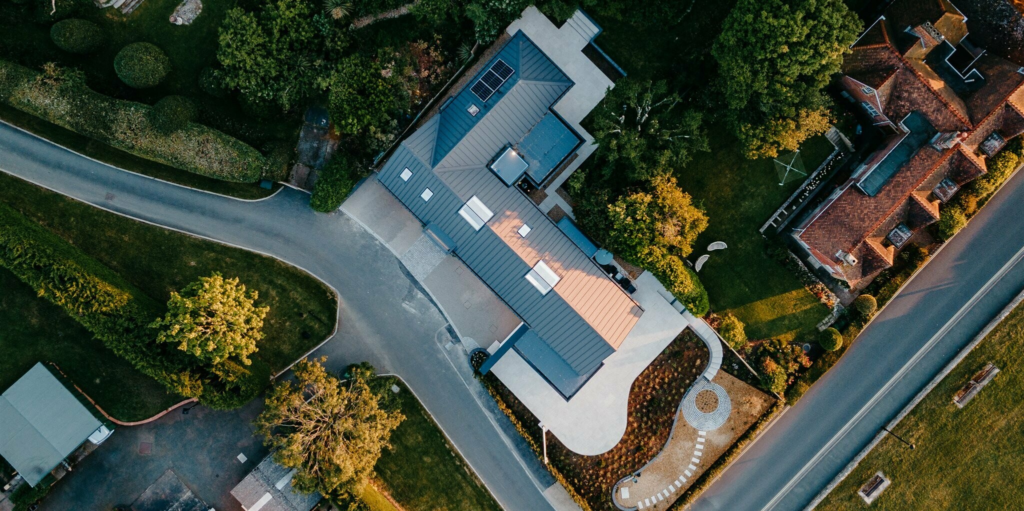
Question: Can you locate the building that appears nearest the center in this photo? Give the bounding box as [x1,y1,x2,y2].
[376,28,646,402]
